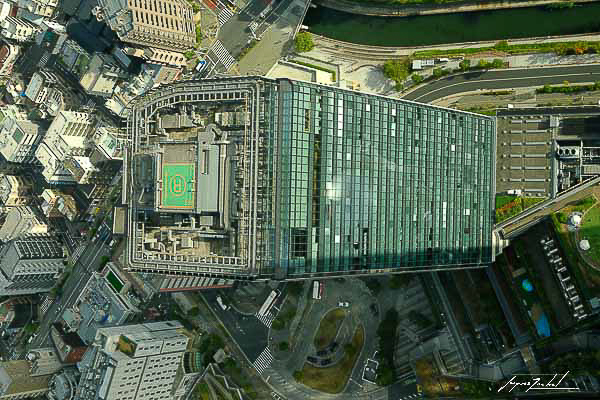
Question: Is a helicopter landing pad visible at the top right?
No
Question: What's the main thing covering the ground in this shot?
buildings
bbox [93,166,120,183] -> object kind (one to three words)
house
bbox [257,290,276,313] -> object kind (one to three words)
vehicle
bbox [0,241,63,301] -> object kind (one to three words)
building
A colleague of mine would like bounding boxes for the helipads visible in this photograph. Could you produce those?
[154,139,199,214]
